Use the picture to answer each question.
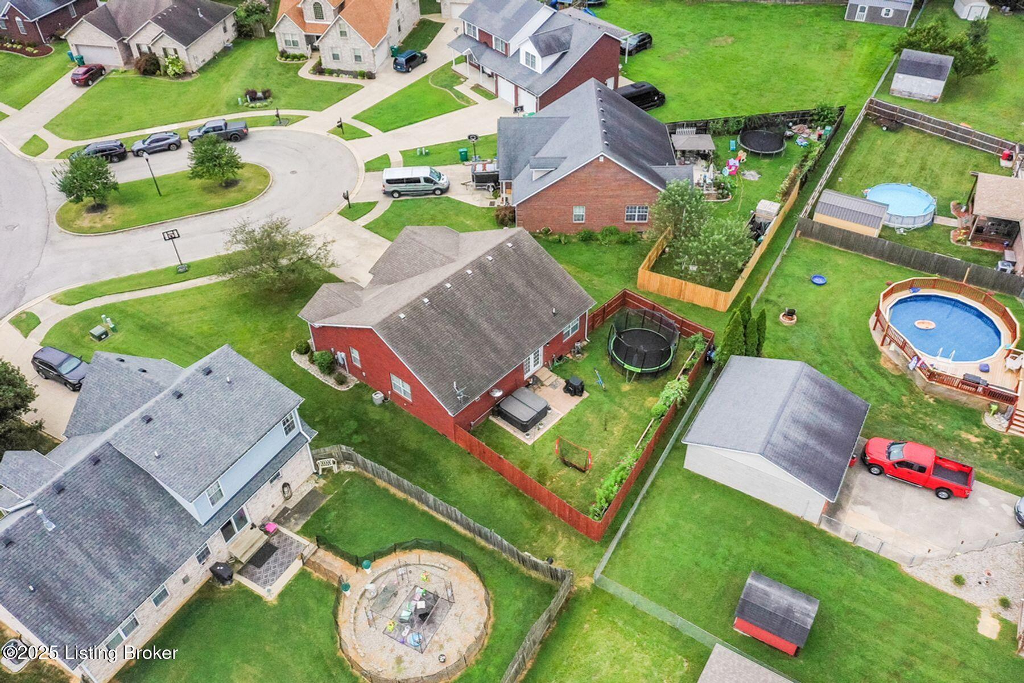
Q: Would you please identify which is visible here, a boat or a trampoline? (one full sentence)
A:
Looking from above, you can make out a trampoline.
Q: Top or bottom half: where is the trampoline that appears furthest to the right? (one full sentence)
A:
You can find the trampoline that appears furthest to the right in the top half.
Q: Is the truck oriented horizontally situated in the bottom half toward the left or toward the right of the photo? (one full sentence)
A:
The truck oriented horizontally situated in the bottom half appears in the right half of the scene.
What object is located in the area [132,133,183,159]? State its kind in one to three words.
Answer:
car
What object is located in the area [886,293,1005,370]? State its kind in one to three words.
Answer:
swimming pool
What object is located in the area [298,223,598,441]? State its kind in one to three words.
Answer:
house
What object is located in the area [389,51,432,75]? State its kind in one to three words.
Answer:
car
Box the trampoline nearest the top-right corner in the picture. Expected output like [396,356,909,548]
[737,129,788,160]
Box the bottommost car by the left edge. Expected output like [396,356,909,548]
[27,343,88,394]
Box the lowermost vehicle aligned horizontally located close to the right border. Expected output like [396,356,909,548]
[861,450,977,509]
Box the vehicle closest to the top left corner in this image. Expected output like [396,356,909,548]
[68,66,112,88]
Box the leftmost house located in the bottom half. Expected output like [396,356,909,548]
[0,346,321,683]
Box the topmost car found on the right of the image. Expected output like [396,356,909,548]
[619,32,657,56]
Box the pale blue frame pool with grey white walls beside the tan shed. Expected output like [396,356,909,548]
[864,181,942,229]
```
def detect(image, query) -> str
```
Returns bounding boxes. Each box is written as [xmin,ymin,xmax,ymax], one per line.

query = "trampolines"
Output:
[737,129,788,160]
[607,305,678,388]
